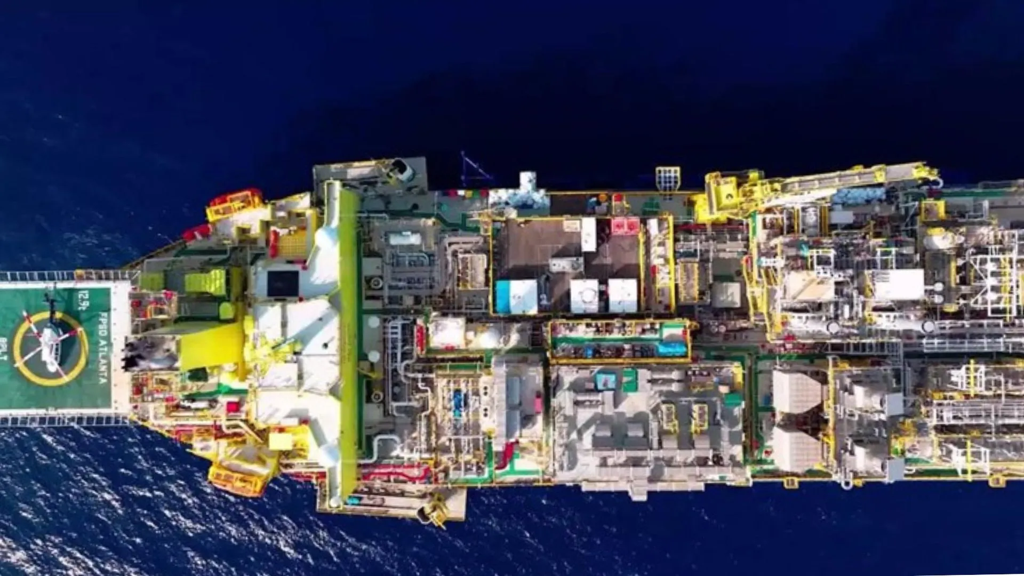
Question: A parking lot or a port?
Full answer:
It's a port.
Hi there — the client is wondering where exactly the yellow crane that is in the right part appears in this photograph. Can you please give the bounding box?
[690,162,944,223]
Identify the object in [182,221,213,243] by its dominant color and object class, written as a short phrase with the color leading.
red boat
